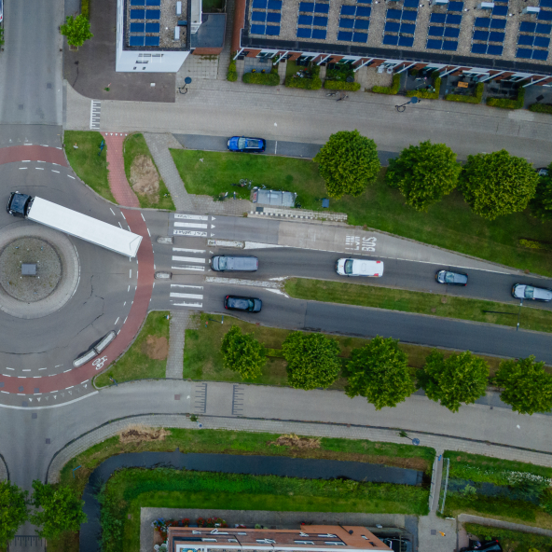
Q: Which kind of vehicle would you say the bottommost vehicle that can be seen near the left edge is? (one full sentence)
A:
In the photo, the bottommost vehicle that can be seen near the left edge shows up as a truck.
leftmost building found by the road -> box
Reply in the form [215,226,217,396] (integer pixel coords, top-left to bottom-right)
[117,0,203,72]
